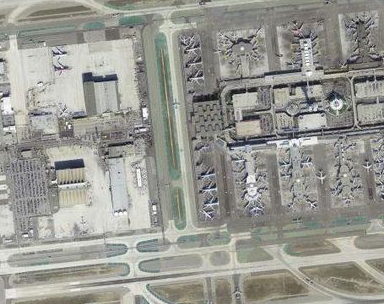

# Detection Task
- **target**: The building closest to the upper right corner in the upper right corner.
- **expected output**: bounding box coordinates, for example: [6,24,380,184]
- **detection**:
[325,22,383,75]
